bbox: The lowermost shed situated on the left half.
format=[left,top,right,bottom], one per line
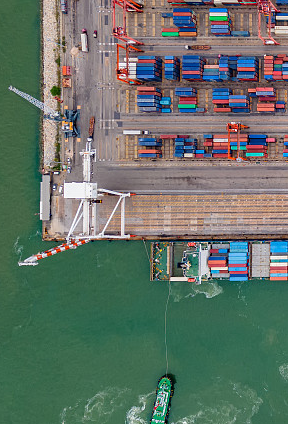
[37,175,56,220]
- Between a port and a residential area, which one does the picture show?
port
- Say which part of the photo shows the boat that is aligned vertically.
bottom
